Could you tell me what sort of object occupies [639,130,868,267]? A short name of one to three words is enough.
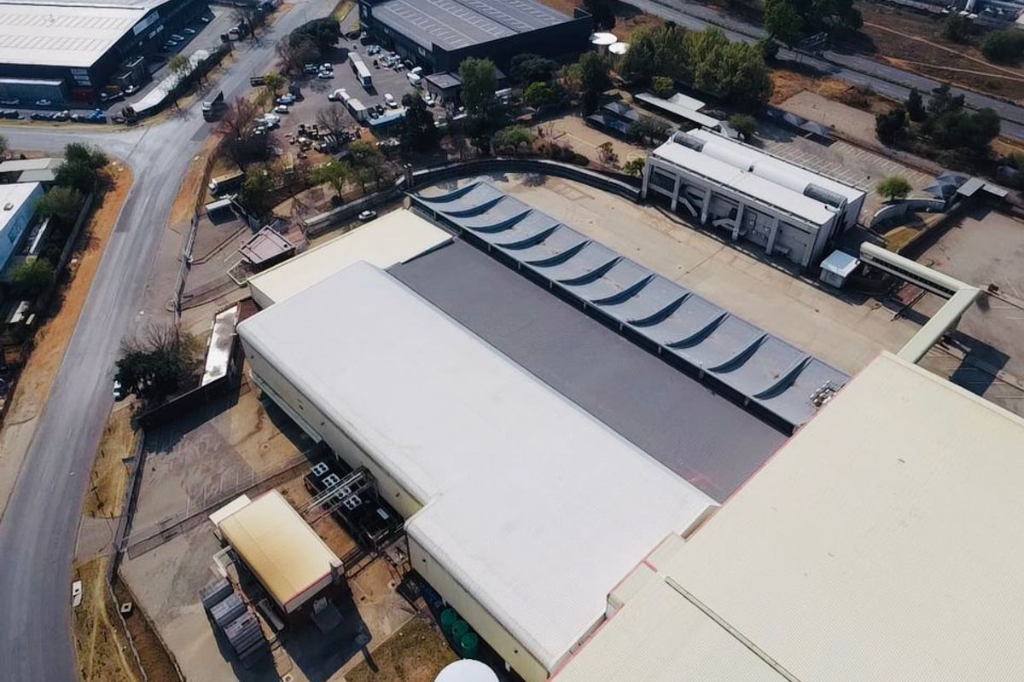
building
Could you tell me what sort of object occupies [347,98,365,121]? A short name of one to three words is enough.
vehicle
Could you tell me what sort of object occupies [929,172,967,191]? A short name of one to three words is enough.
tent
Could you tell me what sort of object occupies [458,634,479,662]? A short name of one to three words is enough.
water tank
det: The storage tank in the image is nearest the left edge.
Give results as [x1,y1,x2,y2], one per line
[249,599,279,637]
